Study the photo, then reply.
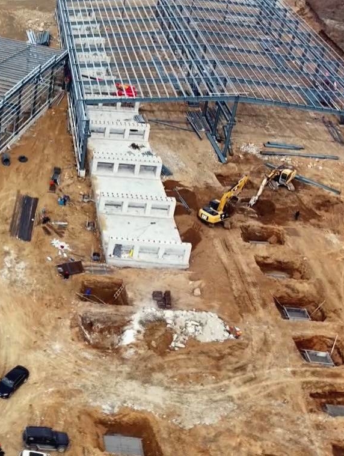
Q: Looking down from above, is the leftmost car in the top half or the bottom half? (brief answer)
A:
bottom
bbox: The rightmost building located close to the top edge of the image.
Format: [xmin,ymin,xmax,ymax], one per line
[54,0,344,171]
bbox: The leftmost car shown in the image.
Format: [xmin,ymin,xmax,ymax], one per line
[0,364,30,400]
